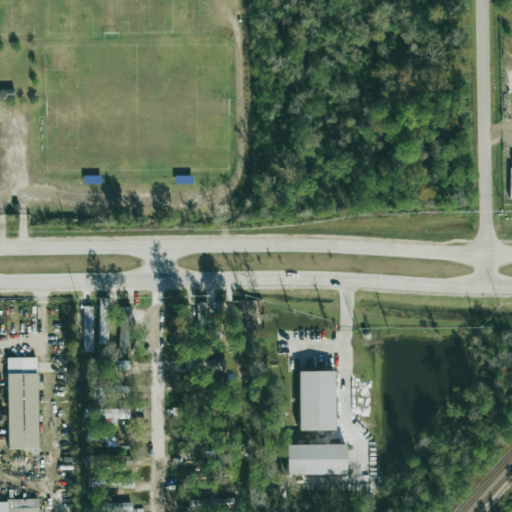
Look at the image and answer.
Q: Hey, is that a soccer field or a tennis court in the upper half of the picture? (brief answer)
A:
soccer field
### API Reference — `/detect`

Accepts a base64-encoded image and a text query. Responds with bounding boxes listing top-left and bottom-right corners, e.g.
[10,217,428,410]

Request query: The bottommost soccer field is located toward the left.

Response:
[40,40,233,173]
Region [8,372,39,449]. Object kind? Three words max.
building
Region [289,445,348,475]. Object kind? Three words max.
building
